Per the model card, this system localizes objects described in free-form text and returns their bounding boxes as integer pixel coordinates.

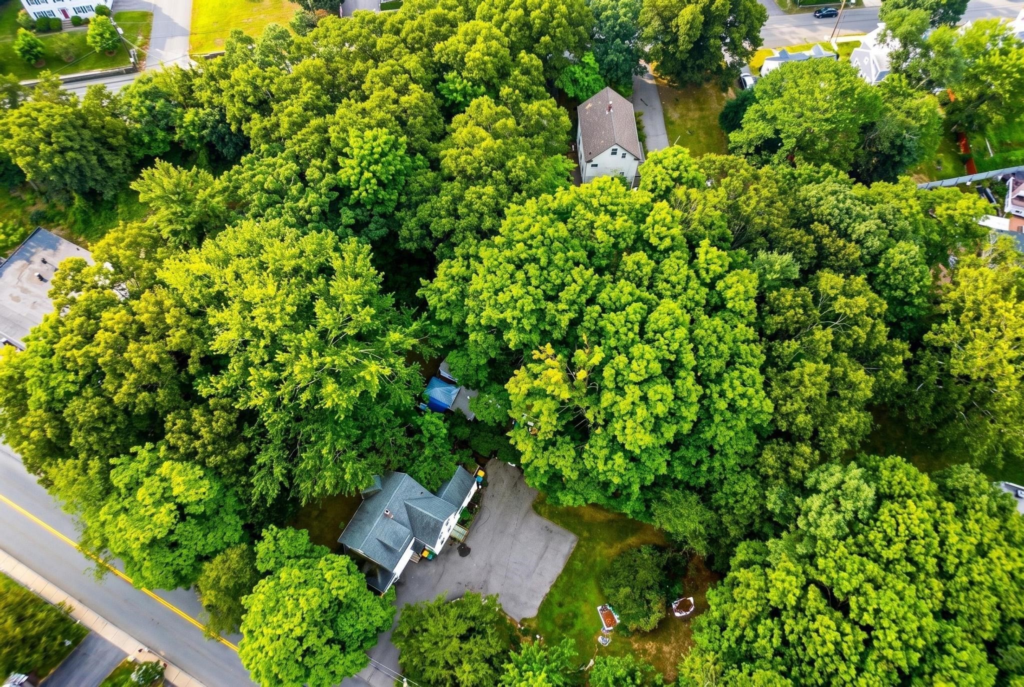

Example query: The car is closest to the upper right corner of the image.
[813,7,839,20]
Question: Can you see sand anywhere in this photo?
No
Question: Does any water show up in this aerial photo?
No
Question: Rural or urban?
rural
